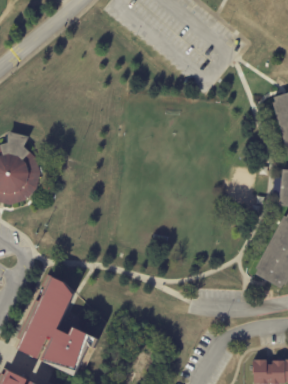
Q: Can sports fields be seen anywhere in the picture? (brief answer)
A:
Yes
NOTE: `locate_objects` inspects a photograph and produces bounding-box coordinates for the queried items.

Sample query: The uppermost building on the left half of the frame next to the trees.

[0,133,39,205]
